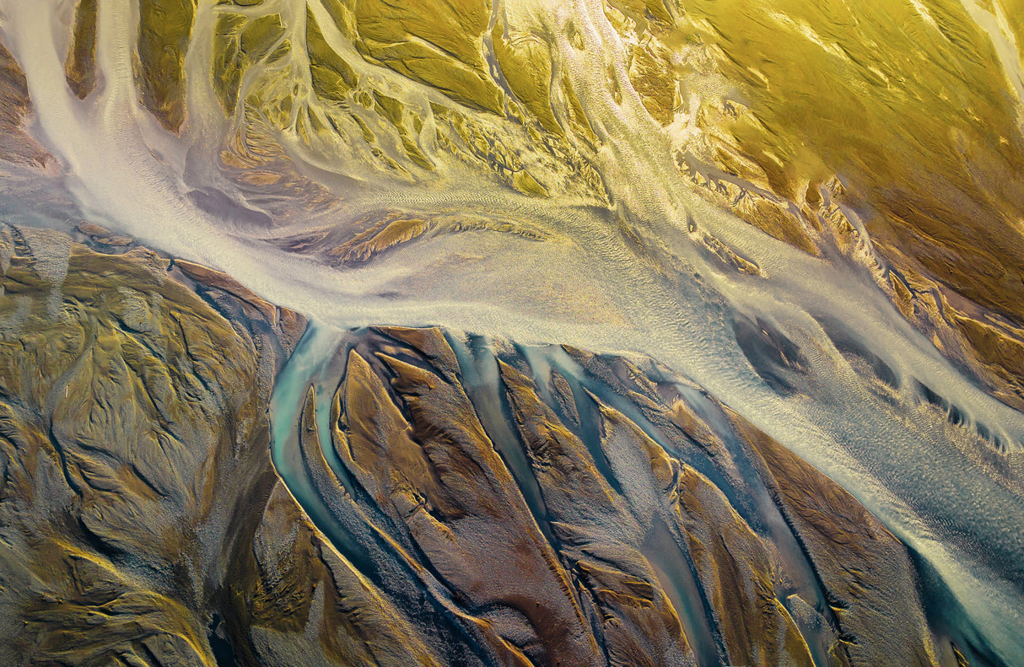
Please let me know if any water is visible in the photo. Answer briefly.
Yes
